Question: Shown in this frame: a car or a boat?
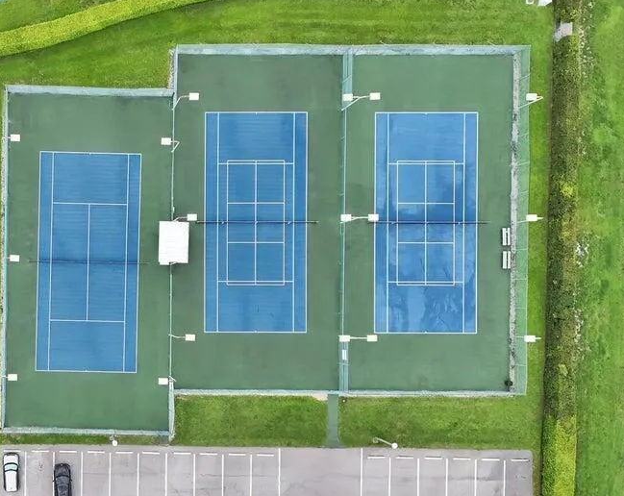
car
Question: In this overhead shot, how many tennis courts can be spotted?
3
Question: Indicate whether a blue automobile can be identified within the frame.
No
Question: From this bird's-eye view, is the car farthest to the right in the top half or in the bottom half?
bottom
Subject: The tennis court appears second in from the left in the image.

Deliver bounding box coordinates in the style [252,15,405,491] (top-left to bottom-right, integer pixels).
[171,55,342,390]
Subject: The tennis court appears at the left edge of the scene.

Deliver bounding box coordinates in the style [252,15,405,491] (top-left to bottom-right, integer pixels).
[4,93,173,430]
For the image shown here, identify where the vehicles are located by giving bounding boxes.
[1,451,20,493]
[51,462,73,496]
